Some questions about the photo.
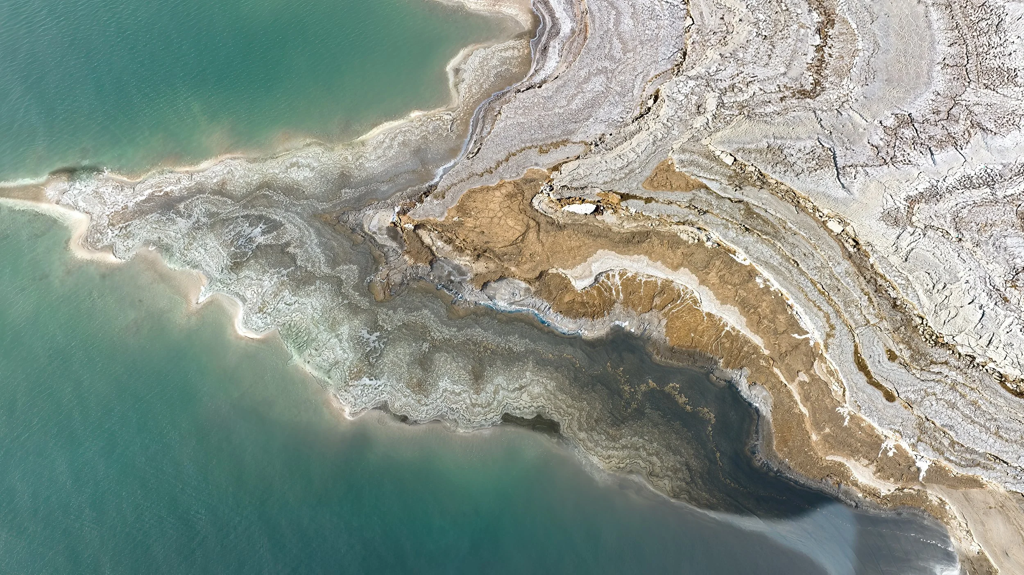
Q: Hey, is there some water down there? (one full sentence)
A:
Yes, water shows up in the scene.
